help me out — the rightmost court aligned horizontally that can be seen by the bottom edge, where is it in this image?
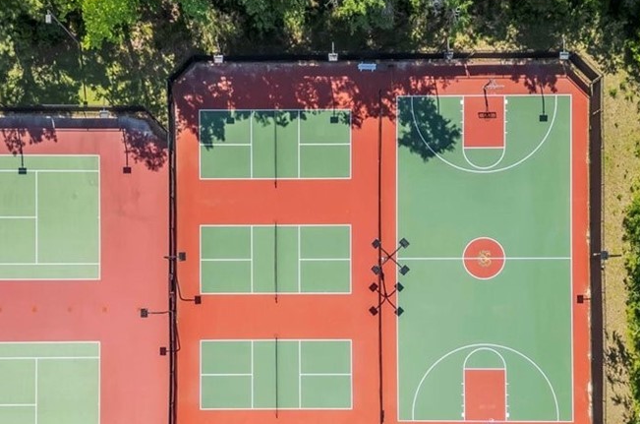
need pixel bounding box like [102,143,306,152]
[200,340,353,410]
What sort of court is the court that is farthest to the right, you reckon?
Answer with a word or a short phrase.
basketball court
